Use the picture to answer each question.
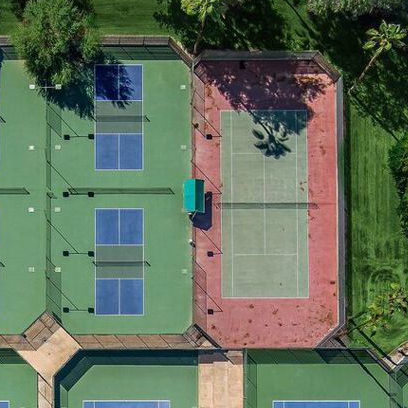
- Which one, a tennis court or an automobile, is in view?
tennis court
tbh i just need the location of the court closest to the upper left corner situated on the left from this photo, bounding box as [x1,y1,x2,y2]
[92,64,146,170]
